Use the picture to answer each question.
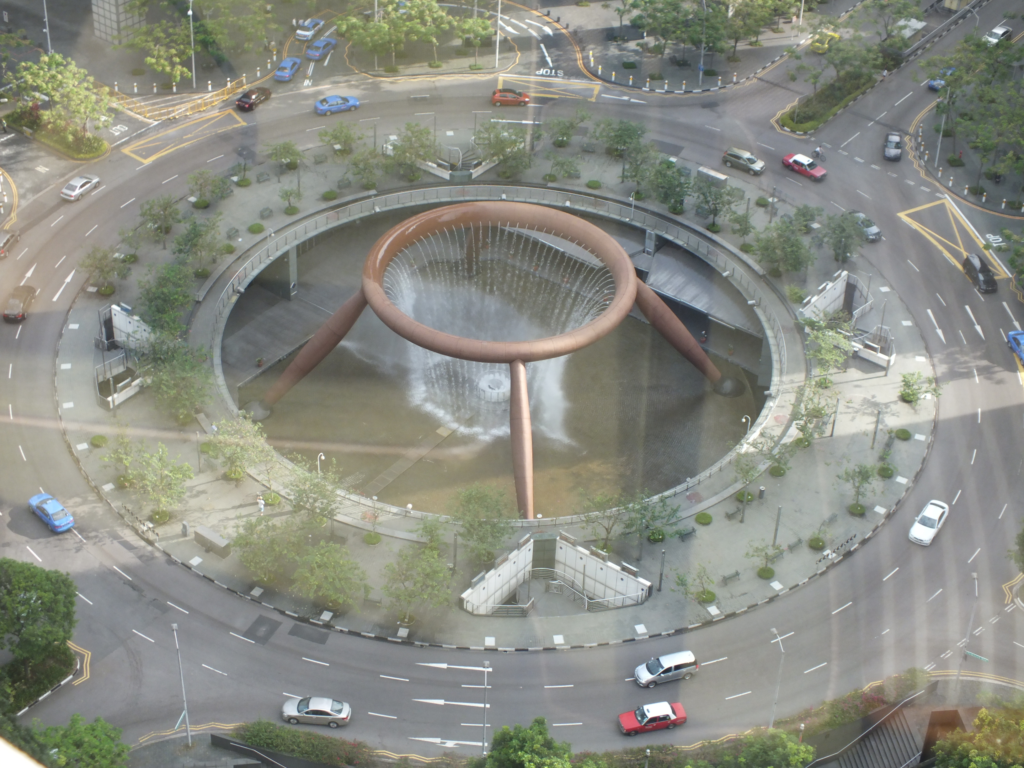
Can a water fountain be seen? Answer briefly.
Yes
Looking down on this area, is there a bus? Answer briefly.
No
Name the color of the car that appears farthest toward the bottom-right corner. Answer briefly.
white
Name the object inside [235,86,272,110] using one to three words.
car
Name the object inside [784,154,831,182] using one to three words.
car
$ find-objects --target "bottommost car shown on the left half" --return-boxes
[280,693,352,728]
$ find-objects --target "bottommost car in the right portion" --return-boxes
[613,699,684,737]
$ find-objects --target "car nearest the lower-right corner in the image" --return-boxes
[910,497,950,541]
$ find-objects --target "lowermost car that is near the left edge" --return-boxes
[26,492,76,532]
